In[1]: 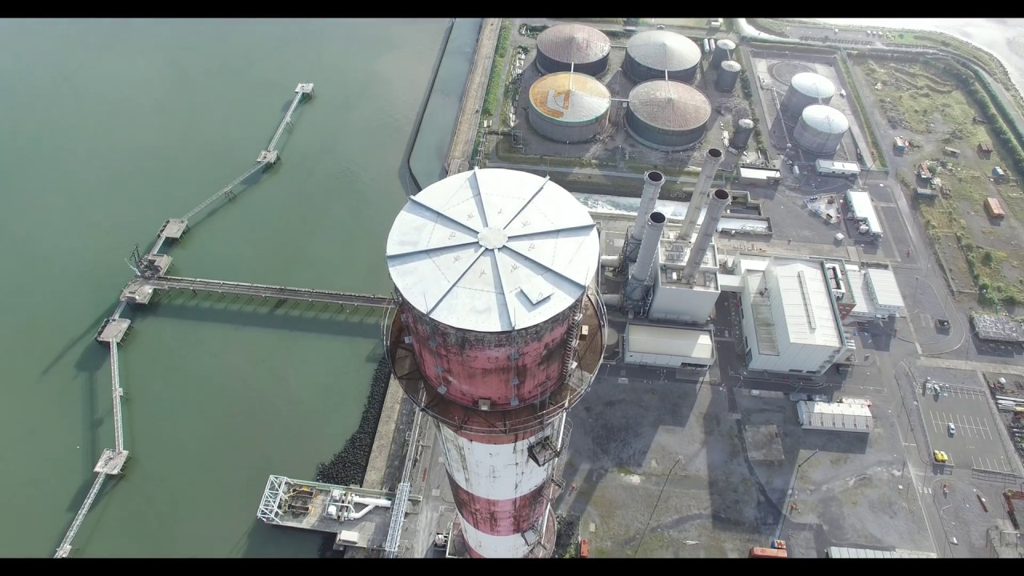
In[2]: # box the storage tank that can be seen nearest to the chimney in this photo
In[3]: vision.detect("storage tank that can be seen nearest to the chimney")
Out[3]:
[526,73,611,144]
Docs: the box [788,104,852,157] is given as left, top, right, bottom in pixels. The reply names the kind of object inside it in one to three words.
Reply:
water tank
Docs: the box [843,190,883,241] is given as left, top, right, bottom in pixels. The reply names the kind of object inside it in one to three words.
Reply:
building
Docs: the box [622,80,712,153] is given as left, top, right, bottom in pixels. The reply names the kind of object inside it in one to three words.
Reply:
storage tank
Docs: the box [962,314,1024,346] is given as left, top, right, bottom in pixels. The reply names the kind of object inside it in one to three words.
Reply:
shed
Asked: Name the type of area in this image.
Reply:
industrial area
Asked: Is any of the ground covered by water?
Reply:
Yes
